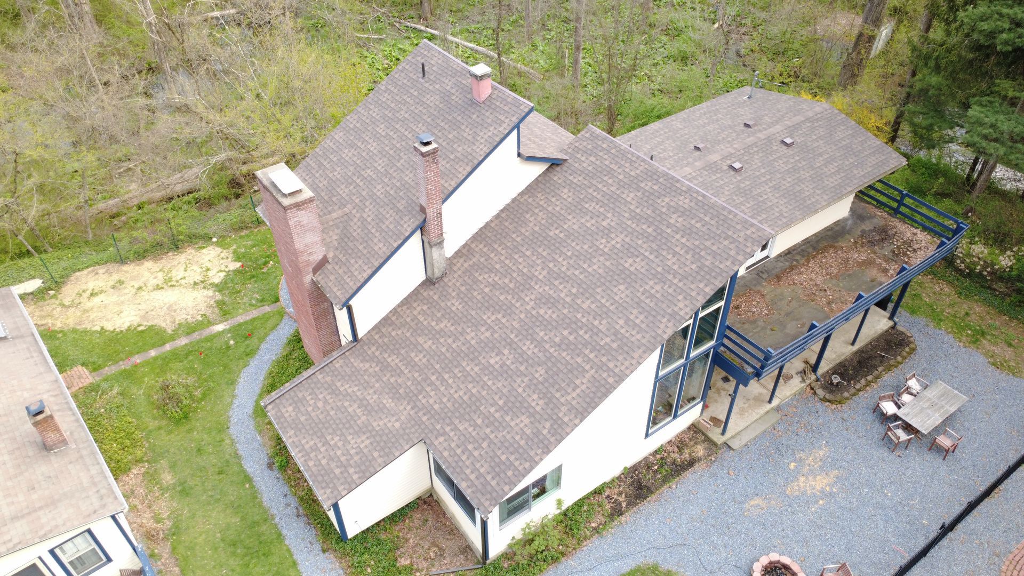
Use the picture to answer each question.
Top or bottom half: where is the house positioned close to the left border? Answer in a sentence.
The house positioned close to the left border is in the bottom half of the image.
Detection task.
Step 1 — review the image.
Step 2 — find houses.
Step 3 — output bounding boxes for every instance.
[255,38,908,572]
[0,280,141,576]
